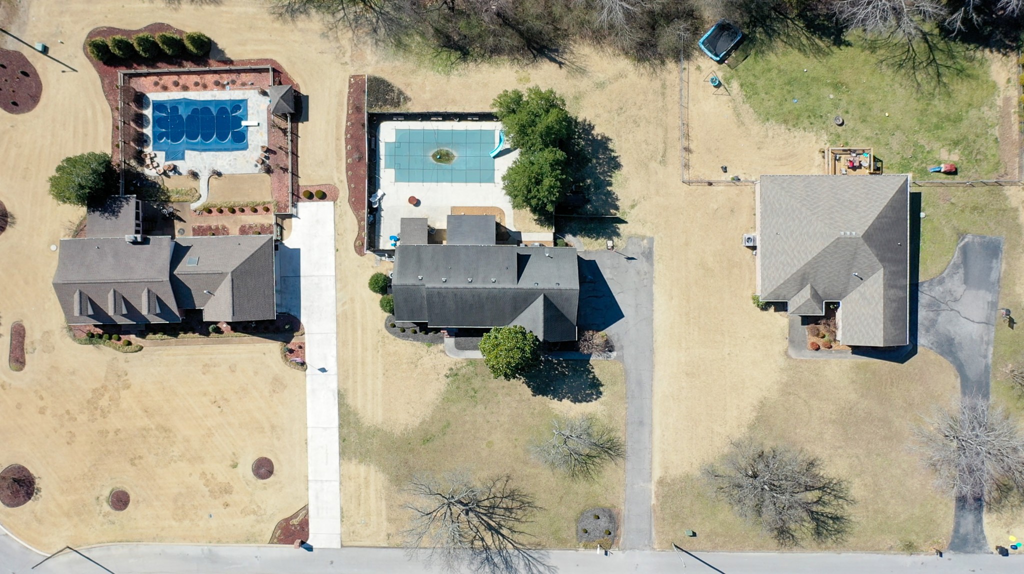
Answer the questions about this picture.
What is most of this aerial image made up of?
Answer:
grass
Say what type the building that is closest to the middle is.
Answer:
house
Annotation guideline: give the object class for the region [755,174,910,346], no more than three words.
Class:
house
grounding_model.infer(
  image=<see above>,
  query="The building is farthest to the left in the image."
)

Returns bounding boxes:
[52,195,280,326]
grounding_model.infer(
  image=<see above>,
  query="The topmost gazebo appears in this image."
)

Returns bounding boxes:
[269,85,300,116]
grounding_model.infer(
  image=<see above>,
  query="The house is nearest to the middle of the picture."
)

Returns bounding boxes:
[392,215,579,342]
